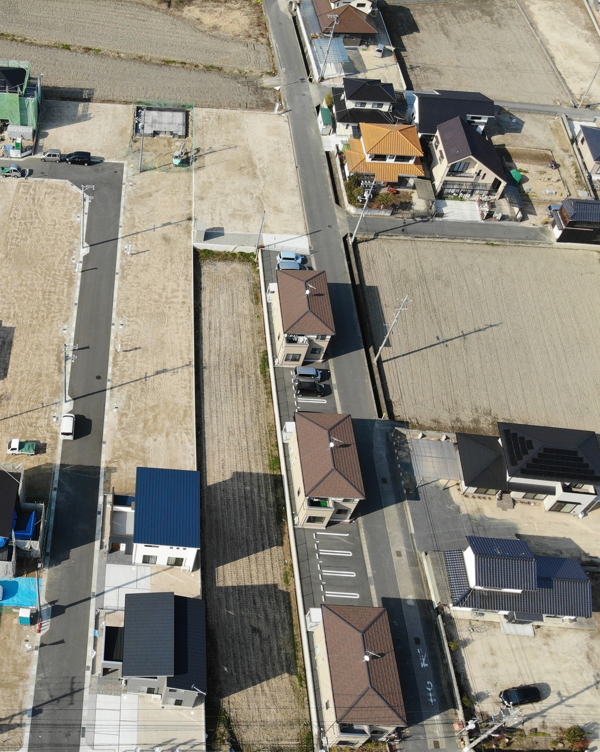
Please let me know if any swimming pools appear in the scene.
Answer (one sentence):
No, this view has no swimming pool in it.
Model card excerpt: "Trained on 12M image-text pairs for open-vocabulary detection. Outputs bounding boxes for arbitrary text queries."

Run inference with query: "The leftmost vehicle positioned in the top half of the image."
[0,163,21,177]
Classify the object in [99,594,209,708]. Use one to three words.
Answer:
house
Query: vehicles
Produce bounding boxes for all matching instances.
[494,683,547,709]
[296,381,324,398]
[41,149,62,162]
[276,251,303,263]
[8,439,36,455]
[276,259,310,270]
[0,163,21,177]
[173,142,186,164]
[543,200,563,214]
[292,366,323,382]
[60,409,76,438]
[65,149,94,164]
[371,41,387,58]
